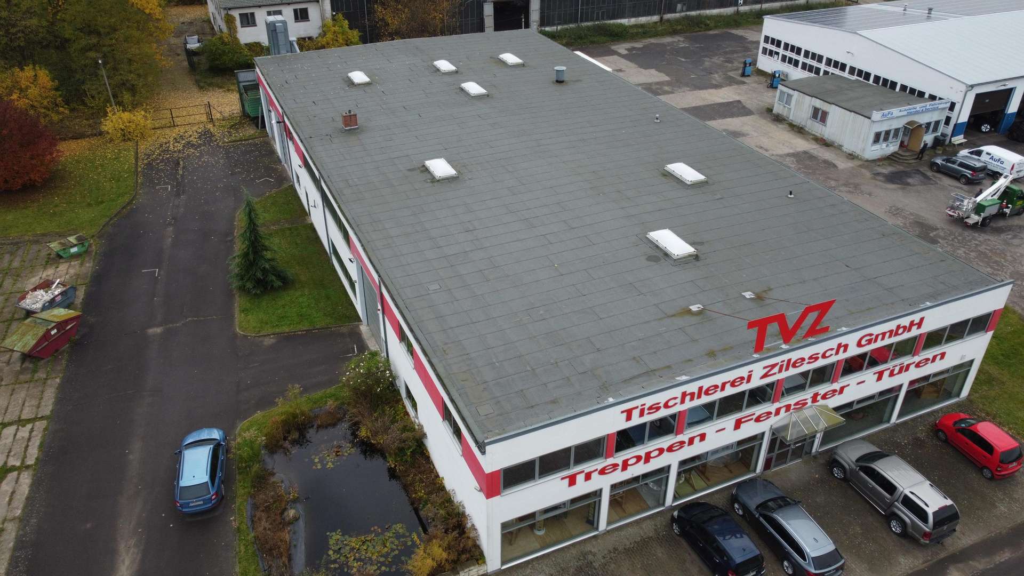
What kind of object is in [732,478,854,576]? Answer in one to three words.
car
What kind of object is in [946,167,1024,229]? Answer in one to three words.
truck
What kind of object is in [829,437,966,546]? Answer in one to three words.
truck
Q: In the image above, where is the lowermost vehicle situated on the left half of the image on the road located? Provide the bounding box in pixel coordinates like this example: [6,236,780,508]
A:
[169,427,227,521]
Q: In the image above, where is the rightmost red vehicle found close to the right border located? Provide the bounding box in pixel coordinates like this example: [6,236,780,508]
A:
[941,417,1024,485]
